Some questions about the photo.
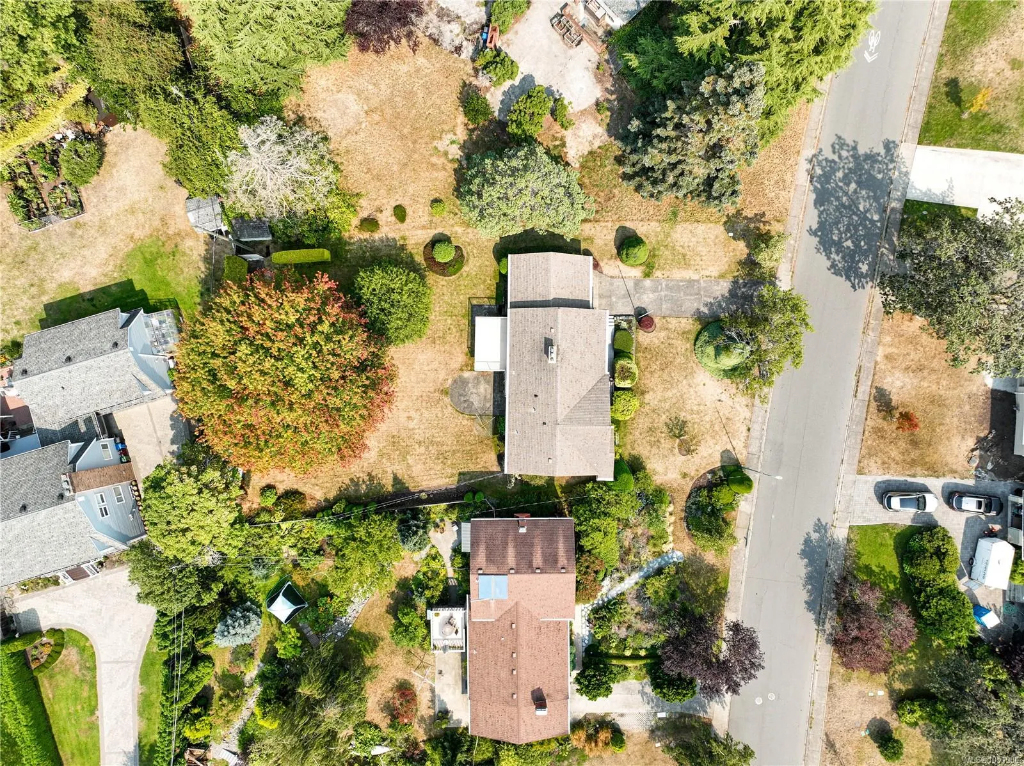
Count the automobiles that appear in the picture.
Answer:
2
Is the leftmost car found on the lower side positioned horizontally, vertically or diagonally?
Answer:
horizontally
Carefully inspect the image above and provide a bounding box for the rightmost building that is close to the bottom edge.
[467,510,577,742]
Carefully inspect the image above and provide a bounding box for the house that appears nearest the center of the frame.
[503,250,617,478]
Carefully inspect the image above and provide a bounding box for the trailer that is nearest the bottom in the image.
[962,529,1015,591]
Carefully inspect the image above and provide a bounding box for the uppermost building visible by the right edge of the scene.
[987,366,1023,391]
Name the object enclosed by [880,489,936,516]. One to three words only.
car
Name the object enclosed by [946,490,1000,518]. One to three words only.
car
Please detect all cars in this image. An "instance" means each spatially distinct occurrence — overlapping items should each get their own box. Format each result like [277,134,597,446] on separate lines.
[880,489,936,516]
[946,490,1000,518]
